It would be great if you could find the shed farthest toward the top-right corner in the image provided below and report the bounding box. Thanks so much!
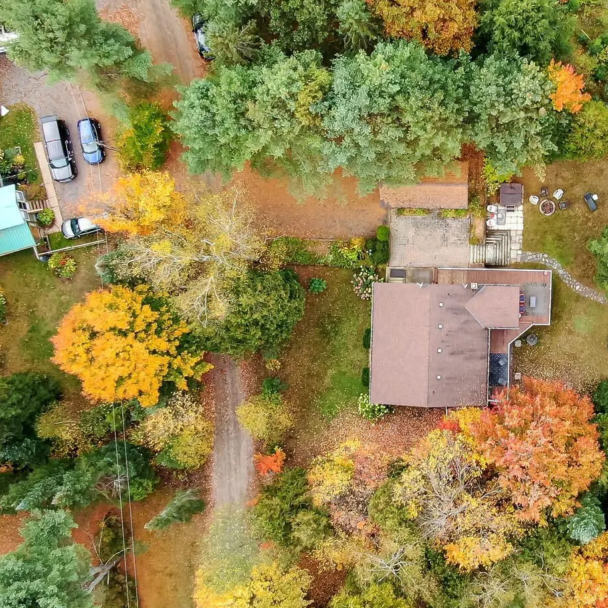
[500,184,523,206]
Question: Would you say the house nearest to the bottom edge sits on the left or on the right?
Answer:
right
